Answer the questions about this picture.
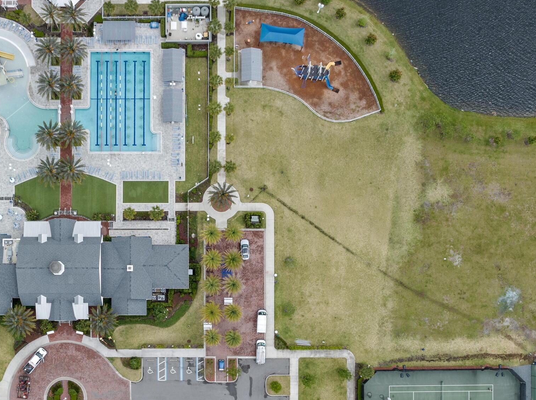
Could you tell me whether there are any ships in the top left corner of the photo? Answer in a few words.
No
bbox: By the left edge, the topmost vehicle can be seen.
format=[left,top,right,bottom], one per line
[25,348,45,373]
